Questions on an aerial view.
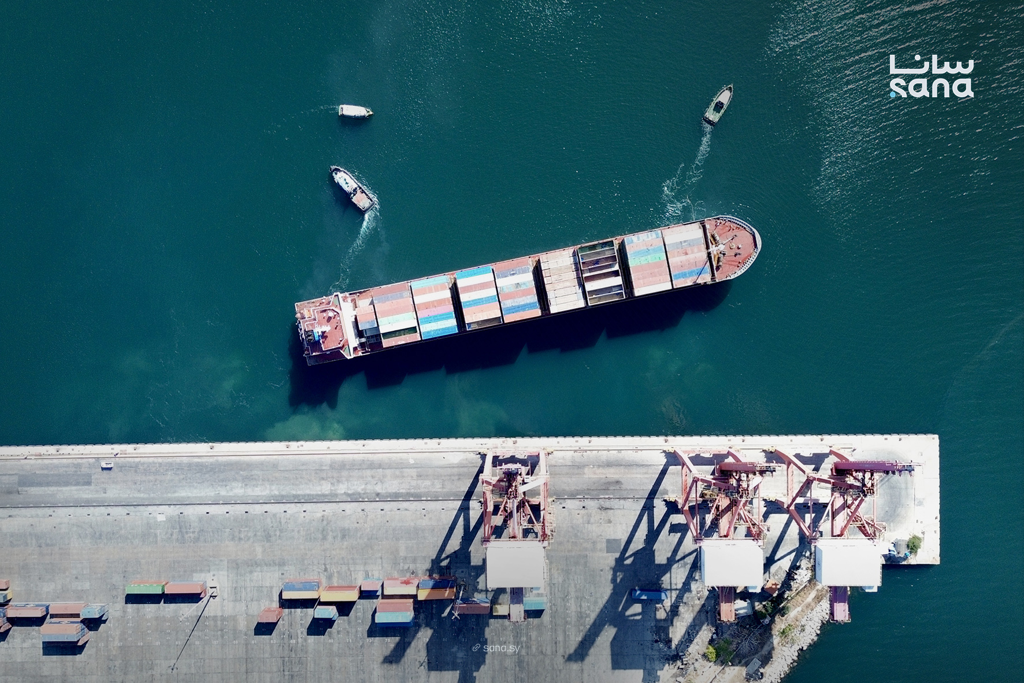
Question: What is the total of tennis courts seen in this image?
0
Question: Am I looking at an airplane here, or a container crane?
container crane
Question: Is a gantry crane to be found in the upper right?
No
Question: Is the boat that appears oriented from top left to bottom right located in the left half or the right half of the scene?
left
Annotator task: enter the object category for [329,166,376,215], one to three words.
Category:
boat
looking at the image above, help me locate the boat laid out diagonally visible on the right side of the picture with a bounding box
[704,84,733,128]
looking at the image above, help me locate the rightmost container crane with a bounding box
[763,448,931,622]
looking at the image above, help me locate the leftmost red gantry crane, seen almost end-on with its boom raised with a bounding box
[476,448,557,622]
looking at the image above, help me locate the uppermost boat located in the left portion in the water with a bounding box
[339,104,373,119]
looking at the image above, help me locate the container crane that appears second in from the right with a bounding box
[662,448,790,622]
